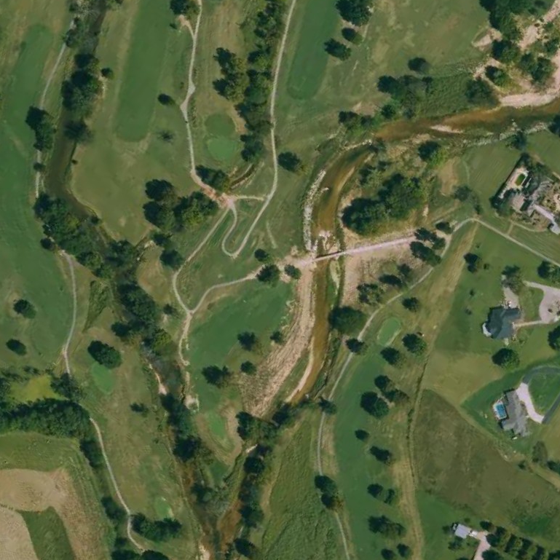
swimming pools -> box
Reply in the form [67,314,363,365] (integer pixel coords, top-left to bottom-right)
[494,403,504,419]
[513,173,527,188]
